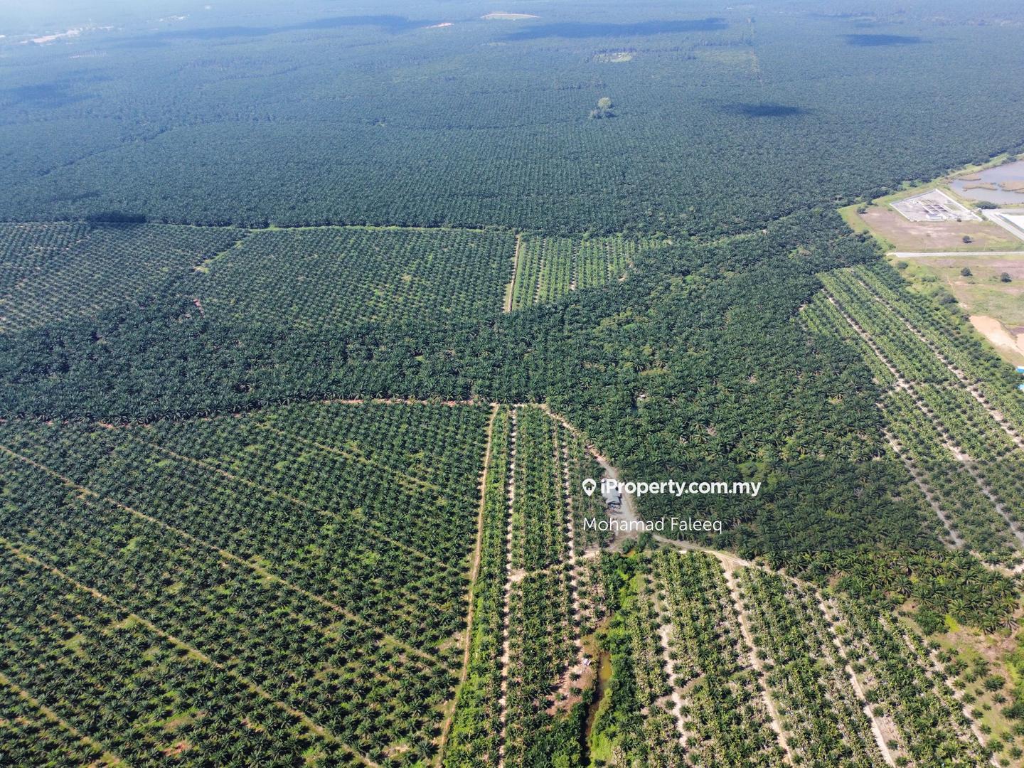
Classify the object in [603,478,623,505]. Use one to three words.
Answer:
shed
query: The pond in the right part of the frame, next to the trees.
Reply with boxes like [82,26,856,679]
[951,160,1024,204]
